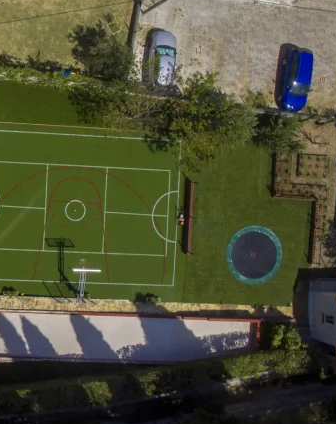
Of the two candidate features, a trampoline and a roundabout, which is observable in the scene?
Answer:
trampoline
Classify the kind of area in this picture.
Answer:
sports ground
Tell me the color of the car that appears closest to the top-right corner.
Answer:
blue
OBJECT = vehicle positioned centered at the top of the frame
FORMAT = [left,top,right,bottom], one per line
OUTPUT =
[146,26,183,88]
